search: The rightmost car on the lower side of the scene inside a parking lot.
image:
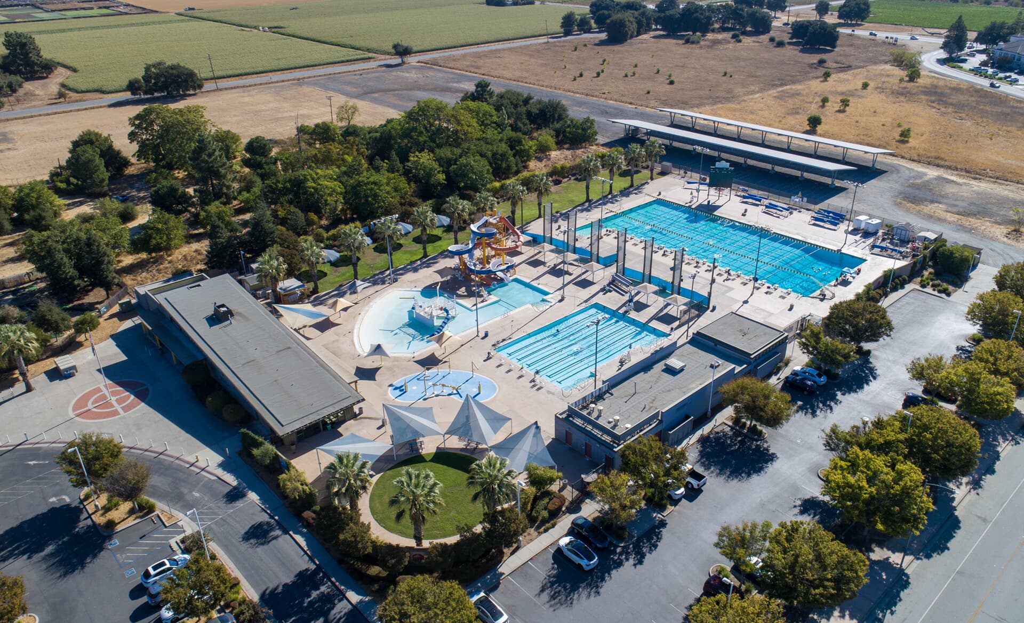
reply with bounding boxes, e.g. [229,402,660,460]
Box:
[904,388,941,409]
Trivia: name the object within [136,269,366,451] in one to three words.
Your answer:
building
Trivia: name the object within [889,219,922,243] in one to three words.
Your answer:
shed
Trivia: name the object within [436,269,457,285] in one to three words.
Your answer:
umbrella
